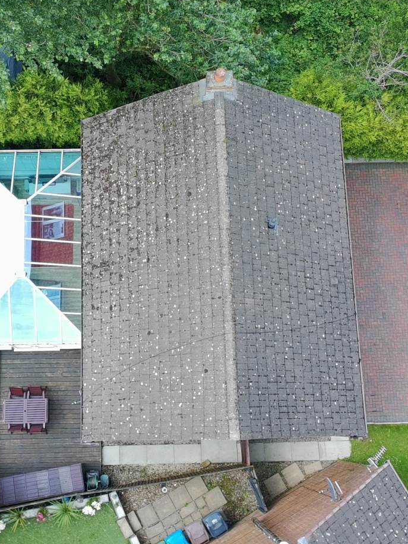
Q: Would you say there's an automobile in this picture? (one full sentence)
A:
No, no automobile can be seen from above.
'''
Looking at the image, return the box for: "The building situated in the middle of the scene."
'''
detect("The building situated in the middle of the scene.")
[77,77,371,444]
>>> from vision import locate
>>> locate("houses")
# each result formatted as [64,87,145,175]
[77,77,371,444]
[203,453,408,544]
